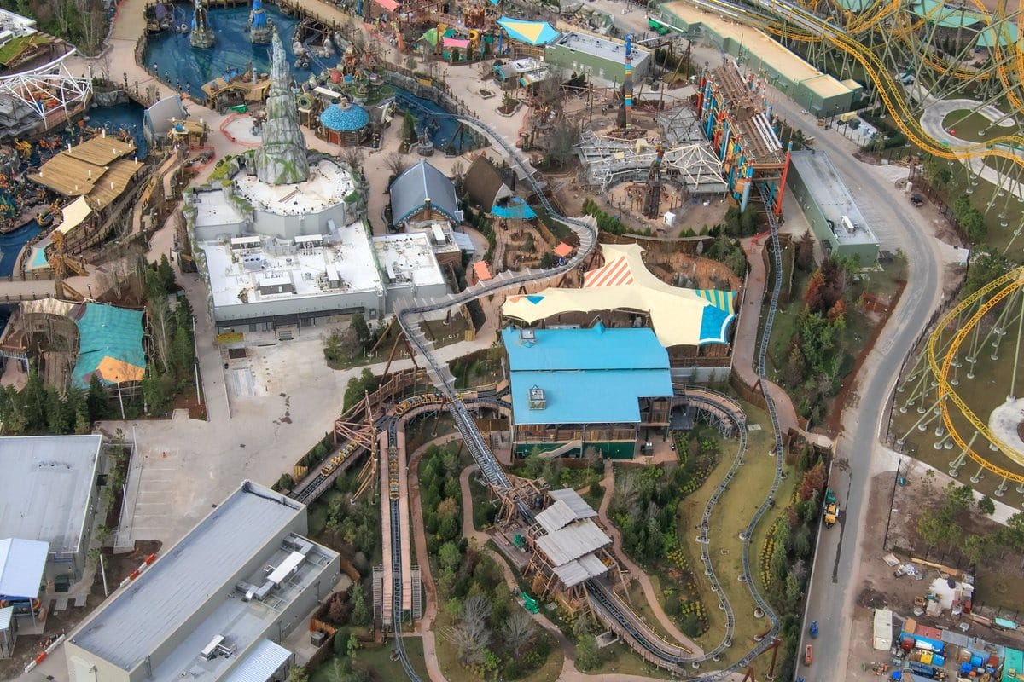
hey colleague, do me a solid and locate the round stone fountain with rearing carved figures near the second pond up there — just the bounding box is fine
[410,130,441,161]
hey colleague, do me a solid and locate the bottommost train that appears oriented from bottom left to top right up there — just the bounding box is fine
[316,437,369,479]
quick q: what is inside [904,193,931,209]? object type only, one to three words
vehicle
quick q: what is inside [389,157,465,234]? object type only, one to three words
barn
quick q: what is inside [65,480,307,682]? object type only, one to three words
warehouse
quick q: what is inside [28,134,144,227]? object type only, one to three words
building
